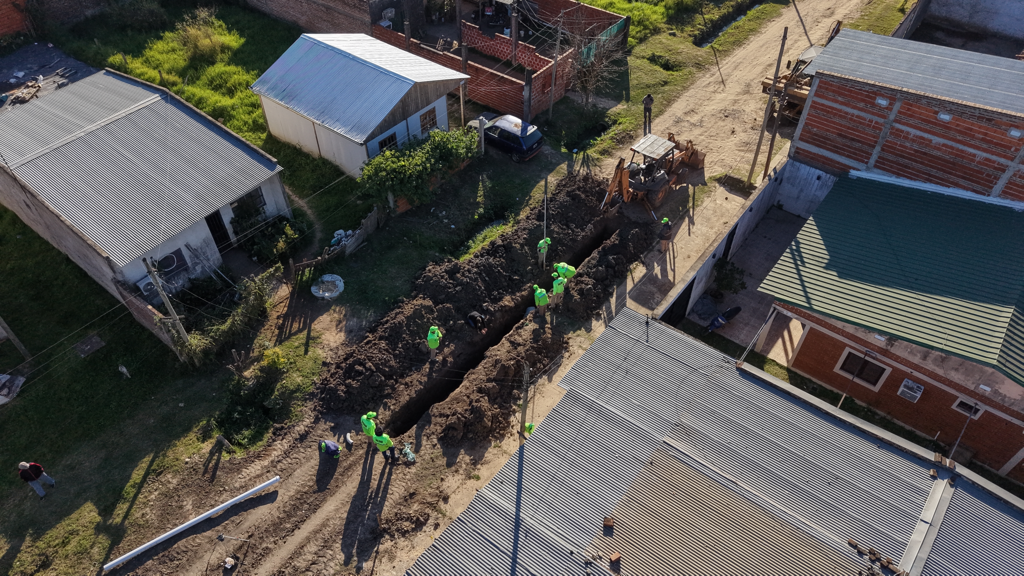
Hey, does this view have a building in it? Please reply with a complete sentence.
Yes, I can see a building in this picture.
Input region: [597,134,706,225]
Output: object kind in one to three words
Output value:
work vehicle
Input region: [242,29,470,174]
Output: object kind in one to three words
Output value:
house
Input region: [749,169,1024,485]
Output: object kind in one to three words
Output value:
house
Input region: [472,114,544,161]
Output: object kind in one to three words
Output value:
car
